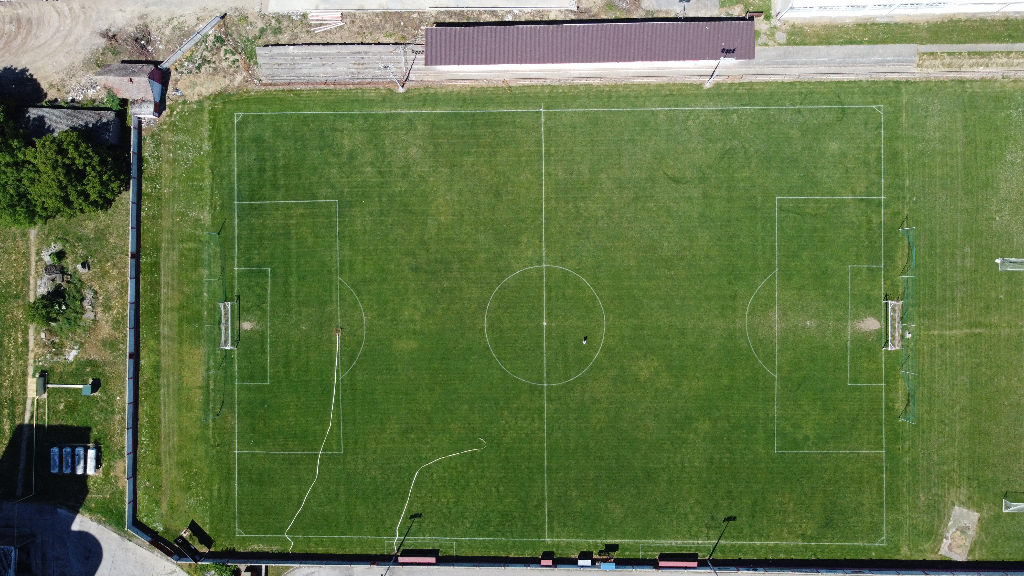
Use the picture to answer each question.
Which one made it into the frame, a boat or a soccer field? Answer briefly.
soccer field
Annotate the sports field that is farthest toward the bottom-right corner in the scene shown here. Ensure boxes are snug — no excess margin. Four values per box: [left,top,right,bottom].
[903,88,1024,555]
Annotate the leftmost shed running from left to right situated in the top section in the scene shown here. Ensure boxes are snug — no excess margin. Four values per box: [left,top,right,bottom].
[23,108,124,147]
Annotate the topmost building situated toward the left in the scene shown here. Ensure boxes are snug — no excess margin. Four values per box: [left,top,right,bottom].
[94,64,163,103]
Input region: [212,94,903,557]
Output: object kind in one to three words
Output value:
soccer field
